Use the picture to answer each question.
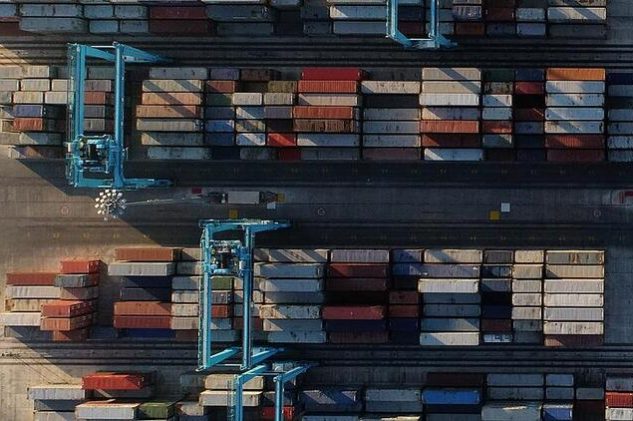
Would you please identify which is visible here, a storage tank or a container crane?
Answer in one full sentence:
The image shows a container crane.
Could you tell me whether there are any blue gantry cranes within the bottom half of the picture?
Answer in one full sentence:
Yes, I can see a blue gantry crane within the bottom half of the picture.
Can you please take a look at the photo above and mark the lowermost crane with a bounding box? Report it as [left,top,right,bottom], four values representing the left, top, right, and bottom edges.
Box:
[227,357,320,421]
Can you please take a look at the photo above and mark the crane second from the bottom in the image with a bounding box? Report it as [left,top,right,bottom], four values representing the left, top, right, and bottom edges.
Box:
[193,219,291,368]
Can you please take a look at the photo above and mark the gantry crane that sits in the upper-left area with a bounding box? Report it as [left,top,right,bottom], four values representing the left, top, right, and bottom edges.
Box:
[66,40,177,185]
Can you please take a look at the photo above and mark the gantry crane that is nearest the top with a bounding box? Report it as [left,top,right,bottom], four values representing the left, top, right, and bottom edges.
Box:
[384,0,462,50]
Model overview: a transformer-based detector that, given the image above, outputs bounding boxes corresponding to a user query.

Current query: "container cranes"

[193,219,291,368]
[227,357,320,421]
[384,0,462,50]
[66,40,177,185]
